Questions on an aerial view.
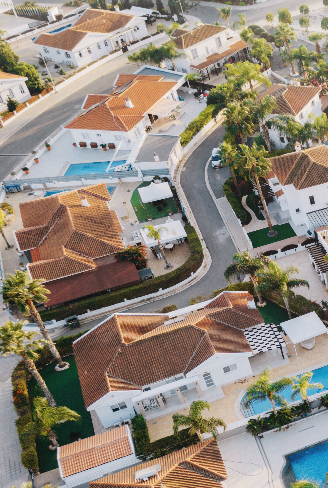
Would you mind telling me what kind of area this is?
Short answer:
residential area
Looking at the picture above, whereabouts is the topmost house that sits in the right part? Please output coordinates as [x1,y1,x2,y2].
[171,20,251,82]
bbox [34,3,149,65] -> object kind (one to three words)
house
